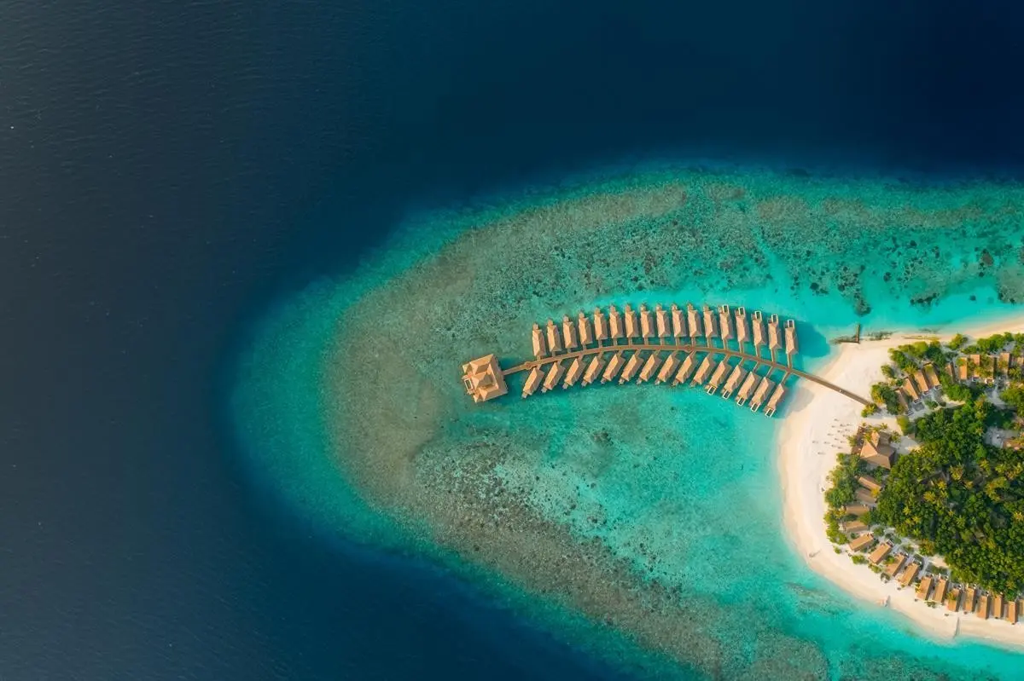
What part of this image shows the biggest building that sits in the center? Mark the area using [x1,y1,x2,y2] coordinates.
[462,354,508,403]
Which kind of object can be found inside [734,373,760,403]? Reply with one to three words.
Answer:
house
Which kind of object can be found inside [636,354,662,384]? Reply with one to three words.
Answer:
house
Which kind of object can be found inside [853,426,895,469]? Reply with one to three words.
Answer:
building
